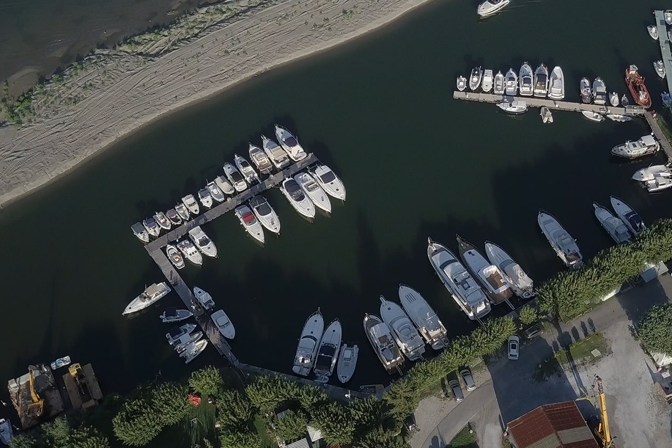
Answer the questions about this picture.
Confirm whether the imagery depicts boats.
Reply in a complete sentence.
Yes, the picture does show a boat.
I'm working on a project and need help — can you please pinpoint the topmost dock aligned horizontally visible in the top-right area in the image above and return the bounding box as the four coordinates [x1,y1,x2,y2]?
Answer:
[454,91,626,117]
